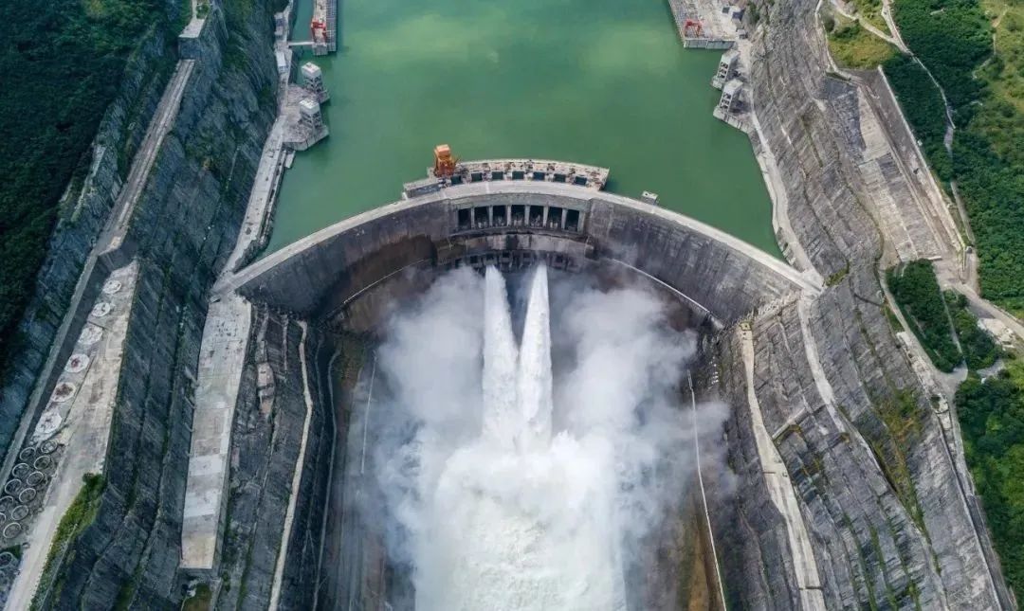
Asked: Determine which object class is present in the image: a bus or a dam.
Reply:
dam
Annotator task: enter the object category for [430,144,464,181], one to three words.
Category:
container crane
